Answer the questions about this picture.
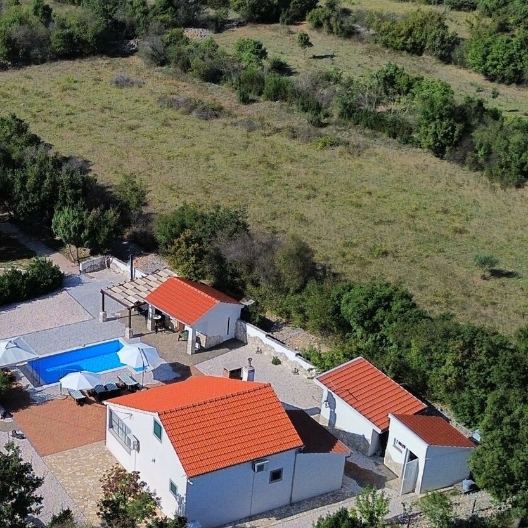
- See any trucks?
No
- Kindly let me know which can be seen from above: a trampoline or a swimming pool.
swimming pool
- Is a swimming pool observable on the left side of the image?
Yes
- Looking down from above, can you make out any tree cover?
Yes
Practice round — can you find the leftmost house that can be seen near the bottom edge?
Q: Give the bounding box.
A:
[101,377,353,528]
